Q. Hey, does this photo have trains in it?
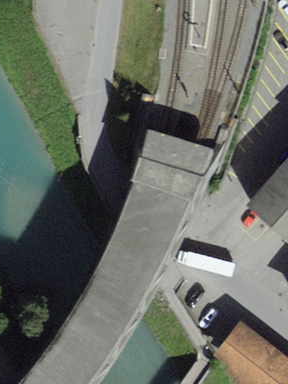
No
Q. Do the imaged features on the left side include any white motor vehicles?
No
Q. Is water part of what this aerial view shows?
Yes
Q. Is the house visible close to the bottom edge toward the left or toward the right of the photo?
right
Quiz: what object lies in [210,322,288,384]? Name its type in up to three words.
house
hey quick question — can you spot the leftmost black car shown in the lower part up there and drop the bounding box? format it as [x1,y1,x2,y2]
[188,284,204,307]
